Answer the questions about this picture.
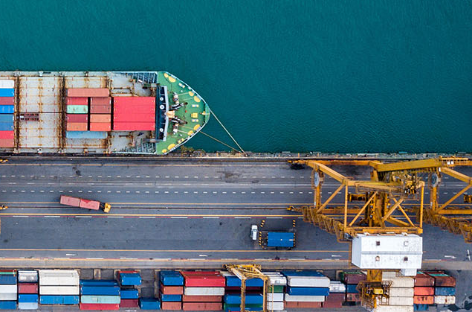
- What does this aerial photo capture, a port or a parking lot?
port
